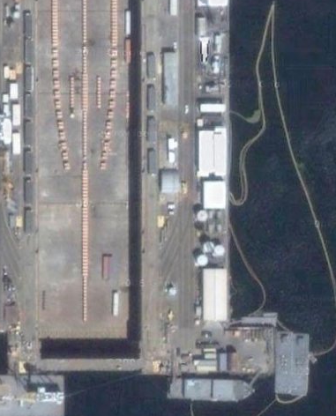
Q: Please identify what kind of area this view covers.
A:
port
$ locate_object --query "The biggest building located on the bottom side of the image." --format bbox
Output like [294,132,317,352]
[204,269,226,322]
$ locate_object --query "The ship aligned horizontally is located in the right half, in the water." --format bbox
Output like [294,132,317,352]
[169,377,255,403]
